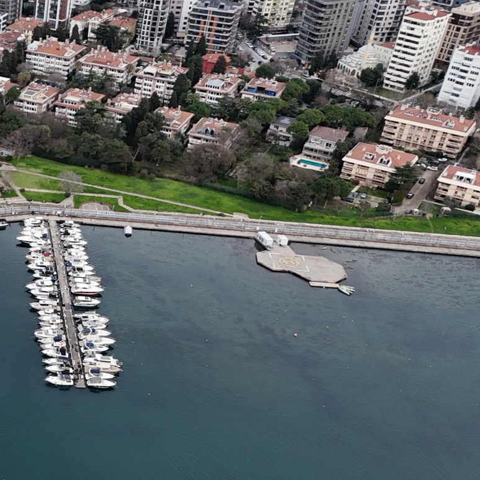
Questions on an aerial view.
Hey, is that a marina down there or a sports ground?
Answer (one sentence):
The area seen from above is a marina.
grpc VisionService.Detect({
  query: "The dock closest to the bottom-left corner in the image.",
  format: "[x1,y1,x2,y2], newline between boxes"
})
[63,304,86,390]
